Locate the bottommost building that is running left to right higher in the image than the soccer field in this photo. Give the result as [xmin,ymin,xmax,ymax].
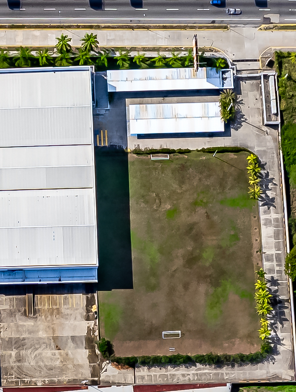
[129,102,225,137]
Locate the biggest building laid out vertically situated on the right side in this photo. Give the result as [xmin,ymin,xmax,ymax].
[261,73,280,126]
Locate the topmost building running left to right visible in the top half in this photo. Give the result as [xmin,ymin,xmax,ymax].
[106,67,234,94]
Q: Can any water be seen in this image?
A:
No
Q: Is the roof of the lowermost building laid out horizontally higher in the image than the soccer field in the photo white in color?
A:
Yes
